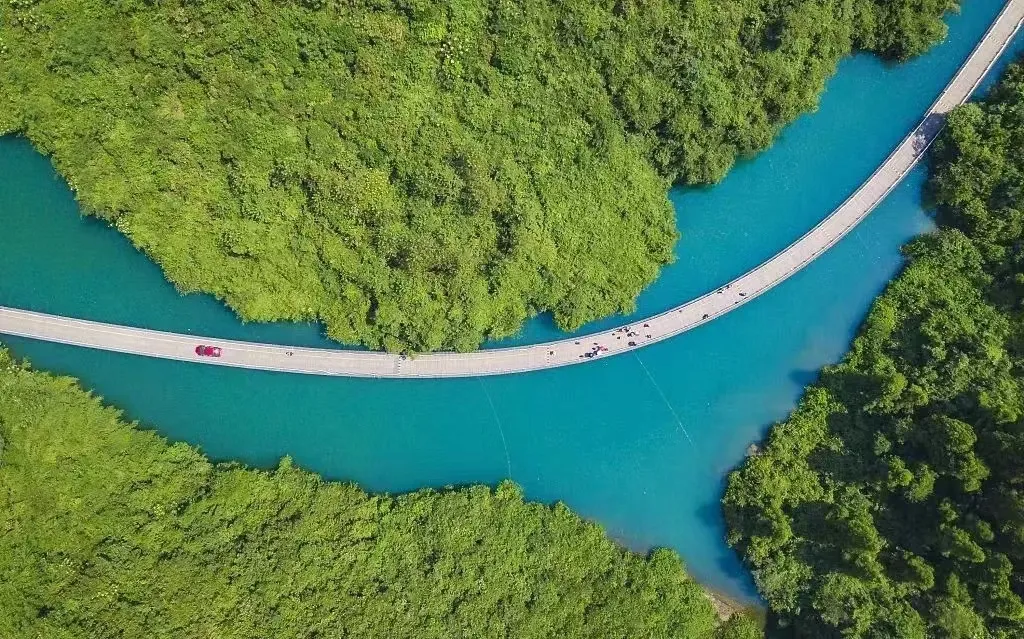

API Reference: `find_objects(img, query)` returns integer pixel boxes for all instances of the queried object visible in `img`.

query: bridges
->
[0,0,1024,378]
